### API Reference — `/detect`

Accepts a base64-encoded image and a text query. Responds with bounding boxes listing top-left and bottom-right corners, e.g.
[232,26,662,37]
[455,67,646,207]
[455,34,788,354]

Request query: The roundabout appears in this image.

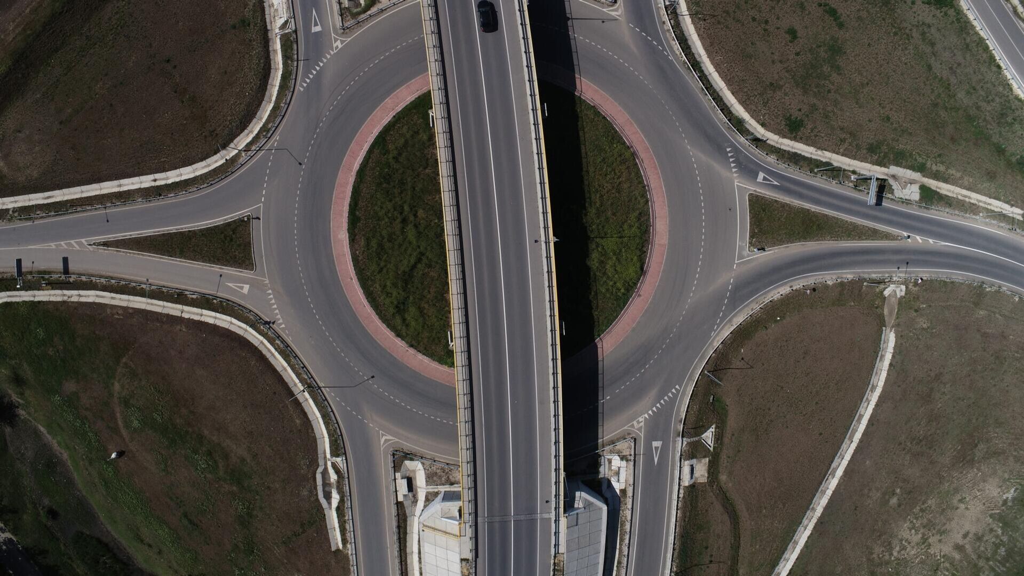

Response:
[260,0,738,461]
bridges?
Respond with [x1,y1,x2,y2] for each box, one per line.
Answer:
[417,0,606,576]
